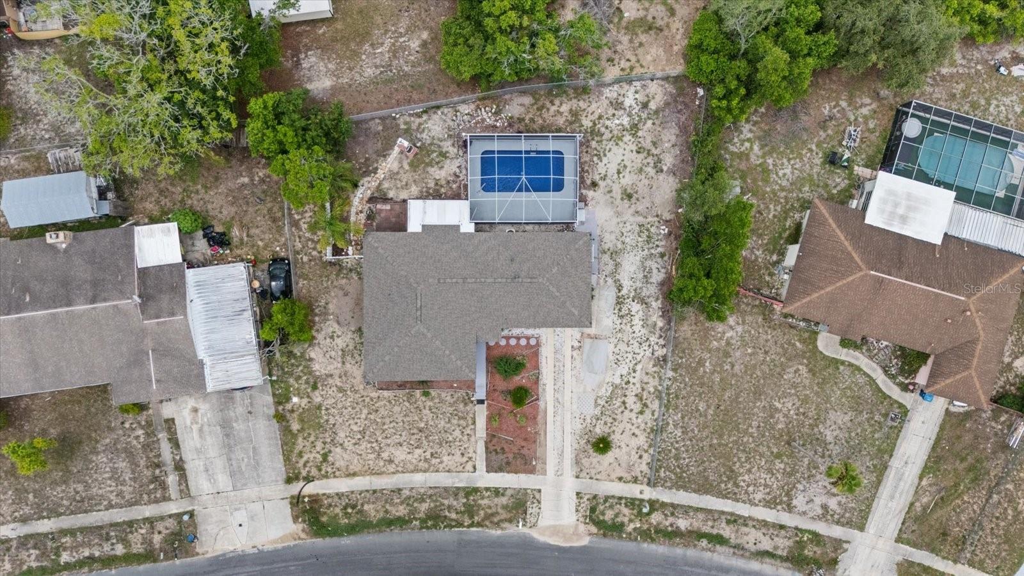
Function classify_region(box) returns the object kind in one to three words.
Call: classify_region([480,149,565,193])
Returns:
swimming pool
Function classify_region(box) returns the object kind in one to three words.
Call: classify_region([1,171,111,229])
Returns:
shed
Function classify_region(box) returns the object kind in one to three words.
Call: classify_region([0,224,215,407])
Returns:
house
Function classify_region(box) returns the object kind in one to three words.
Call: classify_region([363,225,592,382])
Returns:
house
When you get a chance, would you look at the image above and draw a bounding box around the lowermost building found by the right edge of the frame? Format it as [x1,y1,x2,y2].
[776,197,1024,409]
